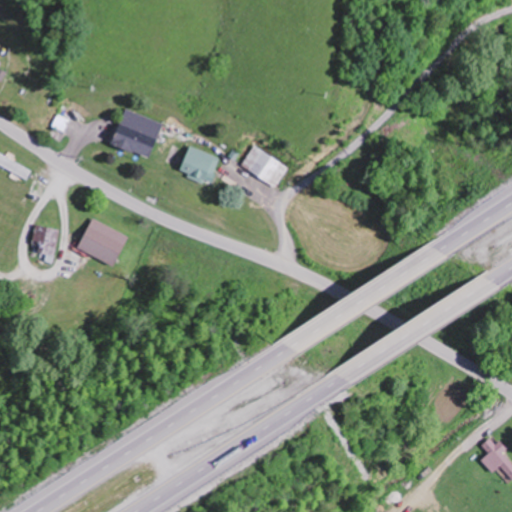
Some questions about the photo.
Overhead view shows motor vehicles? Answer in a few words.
Yes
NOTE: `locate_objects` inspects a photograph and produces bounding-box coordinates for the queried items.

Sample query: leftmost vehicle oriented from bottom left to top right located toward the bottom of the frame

[212,438,256,468]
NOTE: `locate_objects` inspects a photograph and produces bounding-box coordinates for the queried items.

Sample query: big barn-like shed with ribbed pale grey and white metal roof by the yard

[239,140,290,192]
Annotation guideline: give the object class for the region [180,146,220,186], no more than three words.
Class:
house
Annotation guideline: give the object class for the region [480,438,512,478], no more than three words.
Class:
house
